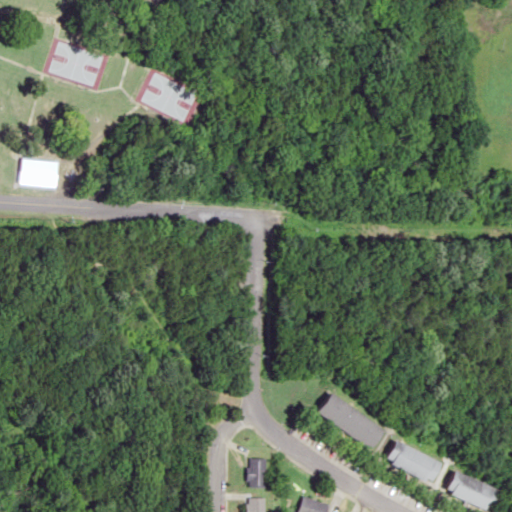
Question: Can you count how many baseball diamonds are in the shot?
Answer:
0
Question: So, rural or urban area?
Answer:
rural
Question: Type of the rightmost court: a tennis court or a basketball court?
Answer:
basketball court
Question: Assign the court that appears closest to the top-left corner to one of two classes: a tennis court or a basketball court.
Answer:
basketball court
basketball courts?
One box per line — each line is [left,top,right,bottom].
[136,70,197,123]
[43,39,108,90]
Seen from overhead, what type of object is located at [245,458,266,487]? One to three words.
house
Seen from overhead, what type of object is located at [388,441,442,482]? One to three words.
building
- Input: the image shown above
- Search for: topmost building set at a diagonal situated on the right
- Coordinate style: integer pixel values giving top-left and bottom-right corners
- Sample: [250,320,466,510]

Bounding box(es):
[320,395,385,448]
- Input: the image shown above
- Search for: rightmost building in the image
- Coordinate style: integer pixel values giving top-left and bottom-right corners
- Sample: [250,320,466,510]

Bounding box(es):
[448,472,497,510]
